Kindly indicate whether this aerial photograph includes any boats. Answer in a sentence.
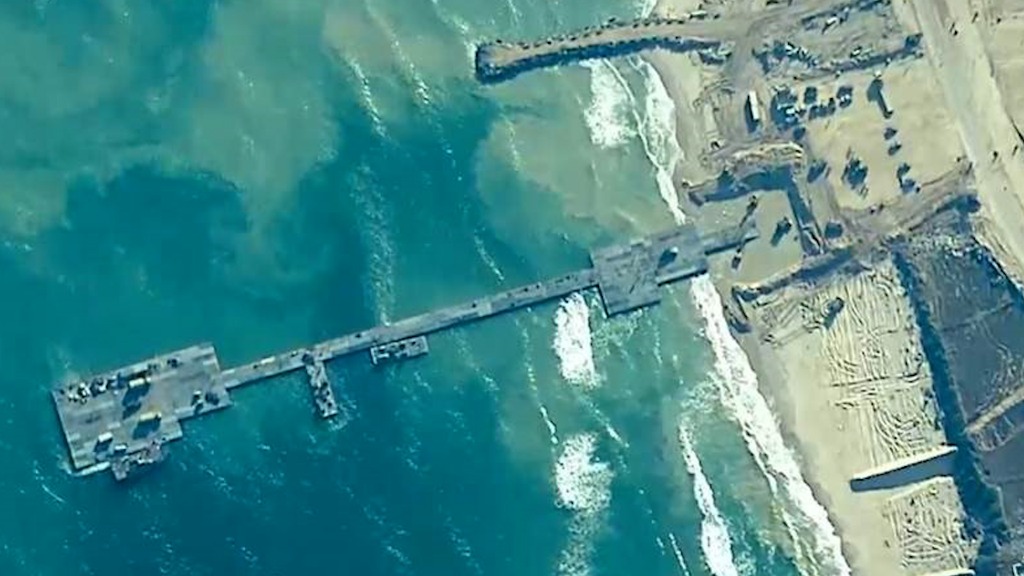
Yes, a boat can be made out from above.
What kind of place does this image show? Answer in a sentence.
The picture captures a beach.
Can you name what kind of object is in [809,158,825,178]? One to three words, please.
vehicle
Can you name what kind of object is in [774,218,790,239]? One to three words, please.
vehicle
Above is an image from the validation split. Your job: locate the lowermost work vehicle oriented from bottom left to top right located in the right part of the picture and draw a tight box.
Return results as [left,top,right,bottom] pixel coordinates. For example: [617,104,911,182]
[828,291,847,318]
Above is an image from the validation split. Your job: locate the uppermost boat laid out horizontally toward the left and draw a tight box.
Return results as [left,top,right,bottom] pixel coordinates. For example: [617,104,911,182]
[371,336,429,364]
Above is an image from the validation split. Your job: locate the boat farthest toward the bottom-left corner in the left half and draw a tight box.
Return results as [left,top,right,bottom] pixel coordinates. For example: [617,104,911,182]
[109,457,129,483]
